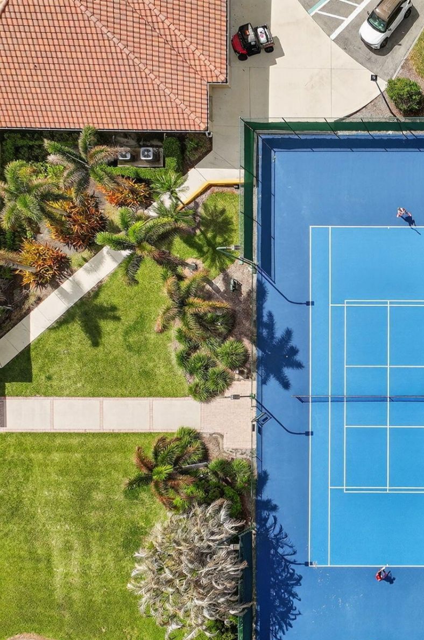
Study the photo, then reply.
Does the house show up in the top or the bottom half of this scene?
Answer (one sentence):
The house sits in the top half of the picture.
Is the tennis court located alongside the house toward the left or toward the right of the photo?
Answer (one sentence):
The tennis court located alongside the house appears in the right half of the scene.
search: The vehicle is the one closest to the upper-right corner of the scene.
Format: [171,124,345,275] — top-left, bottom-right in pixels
[361,0,417,47]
